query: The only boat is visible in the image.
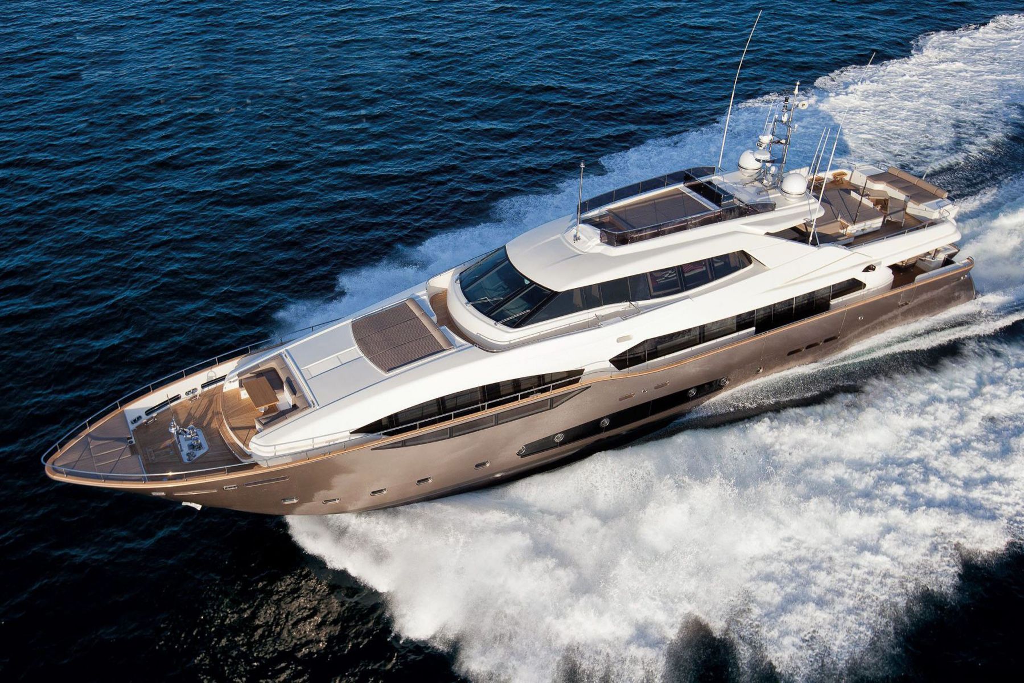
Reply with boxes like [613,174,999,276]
[43,11,975,516]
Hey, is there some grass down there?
No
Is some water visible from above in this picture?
Yes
